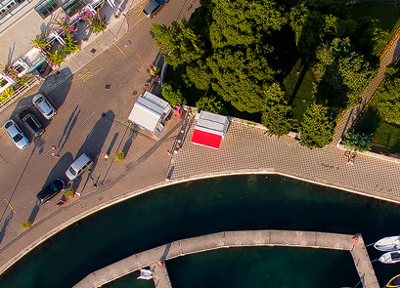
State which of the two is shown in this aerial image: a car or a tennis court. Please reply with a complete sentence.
The image shows a car.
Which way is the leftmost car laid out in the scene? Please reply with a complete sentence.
From this overhead view, the leftmost car appears to run at an angle.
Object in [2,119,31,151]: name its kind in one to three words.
car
